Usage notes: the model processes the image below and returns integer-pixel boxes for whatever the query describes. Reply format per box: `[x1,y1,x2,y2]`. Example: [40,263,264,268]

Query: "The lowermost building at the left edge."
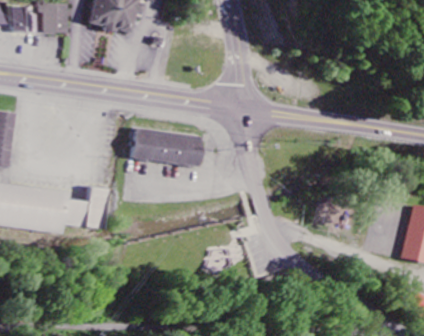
[0,184,90,236]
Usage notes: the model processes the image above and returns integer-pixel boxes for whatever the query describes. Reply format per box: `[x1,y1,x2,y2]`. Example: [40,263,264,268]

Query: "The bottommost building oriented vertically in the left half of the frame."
[88,188,110,230]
